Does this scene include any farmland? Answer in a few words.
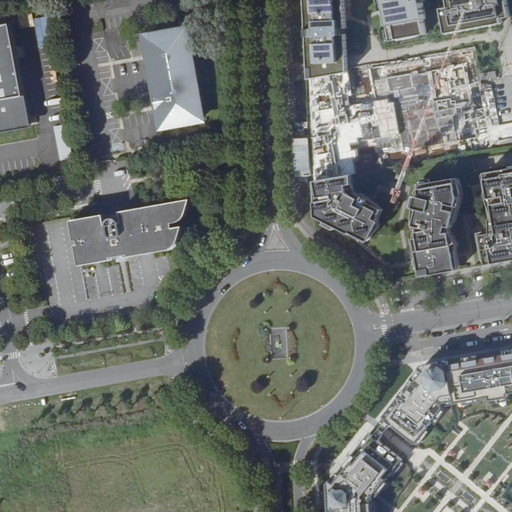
No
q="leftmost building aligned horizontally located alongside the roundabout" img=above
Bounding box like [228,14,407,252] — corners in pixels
[67,199,187,266]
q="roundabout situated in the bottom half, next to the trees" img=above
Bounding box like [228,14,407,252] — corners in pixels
[185,250,376,441]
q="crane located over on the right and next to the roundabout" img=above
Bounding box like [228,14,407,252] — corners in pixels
[395,0,470,196]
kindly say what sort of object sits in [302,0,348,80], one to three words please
building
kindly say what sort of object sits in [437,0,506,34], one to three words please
building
